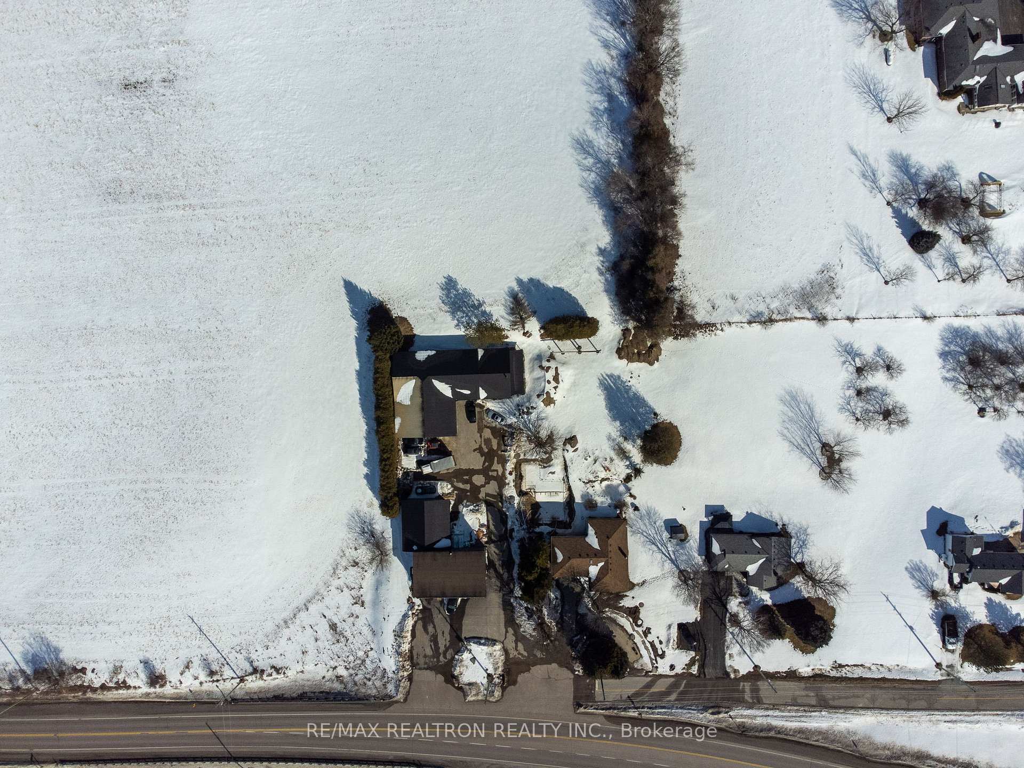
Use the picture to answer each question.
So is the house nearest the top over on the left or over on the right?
right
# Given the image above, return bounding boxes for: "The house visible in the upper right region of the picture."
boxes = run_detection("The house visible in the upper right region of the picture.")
[915,0,1024,111]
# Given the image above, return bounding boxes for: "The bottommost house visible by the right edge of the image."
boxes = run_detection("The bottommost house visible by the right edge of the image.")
[937,532,1024,594]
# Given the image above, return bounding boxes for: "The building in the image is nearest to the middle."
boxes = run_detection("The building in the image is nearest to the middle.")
[392,348,525,438]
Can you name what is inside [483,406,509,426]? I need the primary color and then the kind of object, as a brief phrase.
gray car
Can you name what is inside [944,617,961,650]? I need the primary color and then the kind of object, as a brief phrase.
black vehicle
